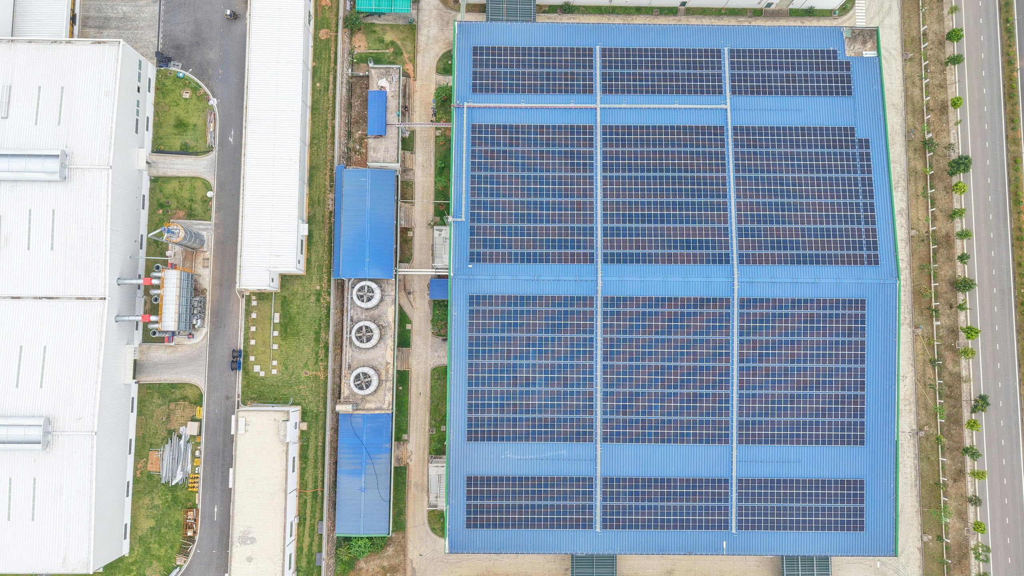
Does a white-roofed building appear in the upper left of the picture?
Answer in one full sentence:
Yes, a white-roofed building is visible in the upper left of the picture.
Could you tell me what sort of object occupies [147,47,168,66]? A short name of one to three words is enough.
work vehicle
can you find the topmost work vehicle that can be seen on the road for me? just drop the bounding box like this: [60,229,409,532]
[221,7,240,19]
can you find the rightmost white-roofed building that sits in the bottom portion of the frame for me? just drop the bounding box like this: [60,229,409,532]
[227,403,304,576]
